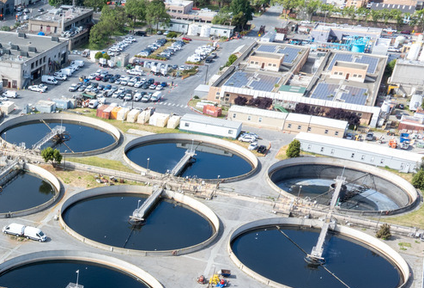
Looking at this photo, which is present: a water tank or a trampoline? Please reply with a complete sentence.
I can see a water tank in this picture.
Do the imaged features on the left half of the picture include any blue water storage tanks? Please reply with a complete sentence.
Yes, the scene does show a blue water storage tank on the left half of the picture.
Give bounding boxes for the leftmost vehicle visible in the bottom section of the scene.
[4,222,27,237]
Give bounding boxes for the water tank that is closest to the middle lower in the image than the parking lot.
[123,134,259,186]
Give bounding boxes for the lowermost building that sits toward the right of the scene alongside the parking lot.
[209,40,388,125]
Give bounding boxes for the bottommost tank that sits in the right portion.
[227,211,411,288]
